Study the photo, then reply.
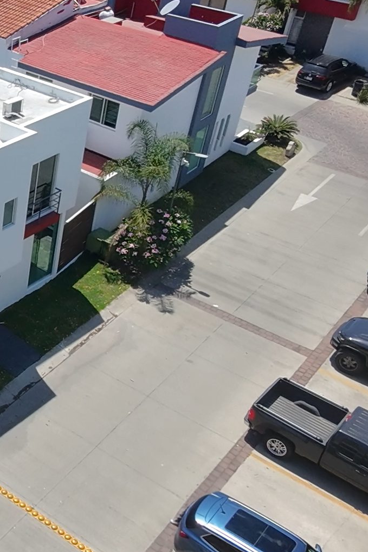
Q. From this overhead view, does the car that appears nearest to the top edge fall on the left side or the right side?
right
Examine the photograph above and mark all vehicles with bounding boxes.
[246,383,368,498]
[299,55,351,93]
[324,320,368,373]
[169,488,311,552]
